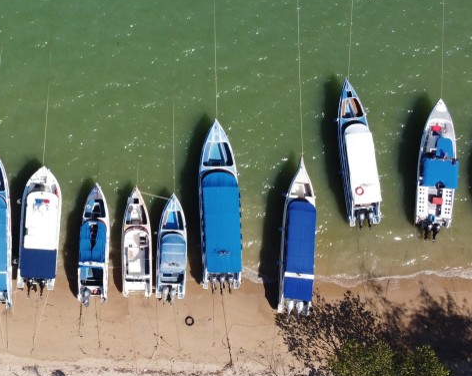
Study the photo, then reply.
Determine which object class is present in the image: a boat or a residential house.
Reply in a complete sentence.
It is a boat that can be seen here.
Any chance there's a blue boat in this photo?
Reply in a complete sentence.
Yes, there is a blue boat in the image.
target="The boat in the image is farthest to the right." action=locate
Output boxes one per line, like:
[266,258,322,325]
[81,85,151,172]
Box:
[411,99,458,233]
